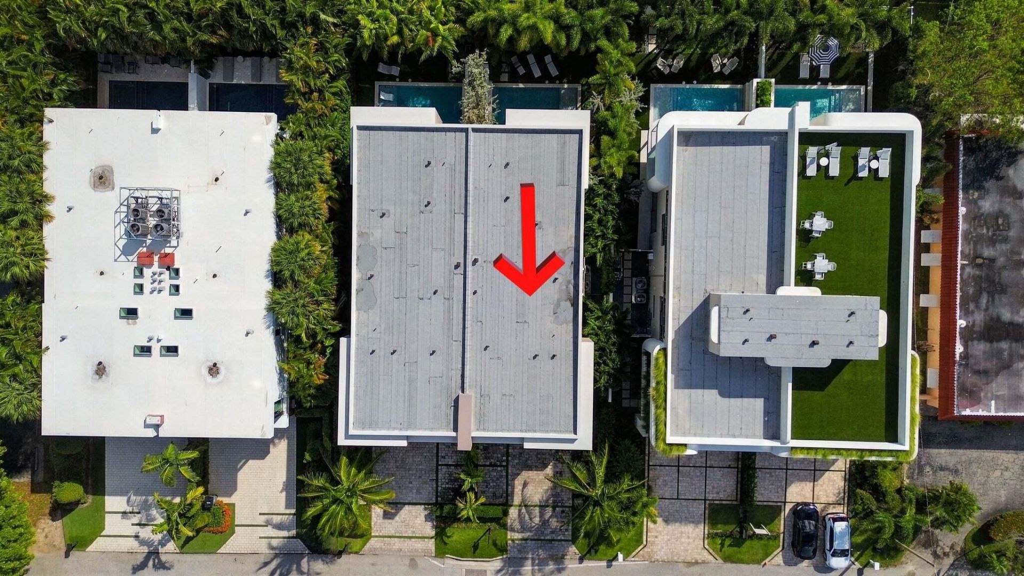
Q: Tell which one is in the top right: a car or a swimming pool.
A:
swimming pool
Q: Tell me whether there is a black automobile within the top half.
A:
No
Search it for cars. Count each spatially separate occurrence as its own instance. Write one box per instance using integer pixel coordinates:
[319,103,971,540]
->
[790,500,824,565]
[820,512,854,571]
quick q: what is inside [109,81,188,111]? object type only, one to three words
swimming pool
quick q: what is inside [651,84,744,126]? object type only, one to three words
swimming pool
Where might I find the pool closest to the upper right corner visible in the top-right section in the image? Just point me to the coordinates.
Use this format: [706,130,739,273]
[776,85,858,120]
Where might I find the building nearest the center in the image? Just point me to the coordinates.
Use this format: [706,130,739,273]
[338,107,594,450]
